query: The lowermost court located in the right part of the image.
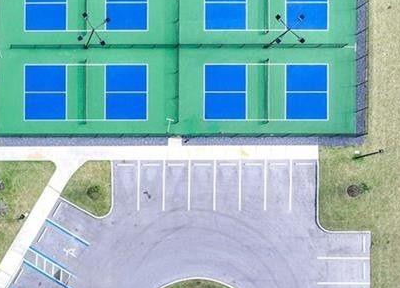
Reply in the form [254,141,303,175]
[179,48,357,136]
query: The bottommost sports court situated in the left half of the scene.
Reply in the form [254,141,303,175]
[0,48,179,136]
